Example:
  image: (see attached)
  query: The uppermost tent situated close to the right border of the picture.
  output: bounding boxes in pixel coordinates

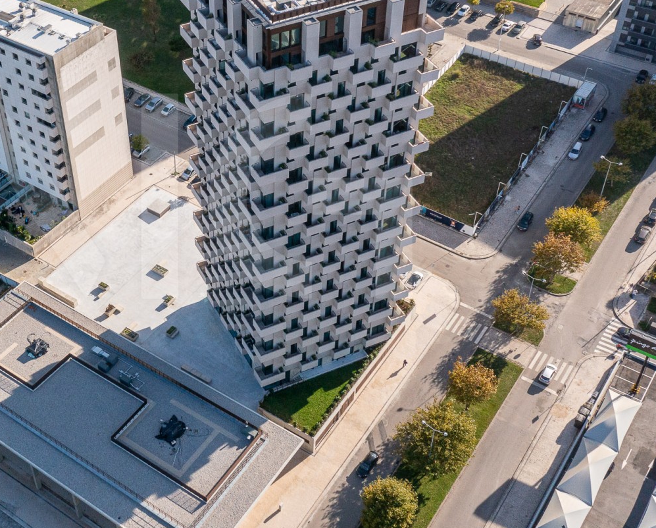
[584,385,643,450]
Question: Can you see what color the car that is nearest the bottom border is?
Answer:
black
